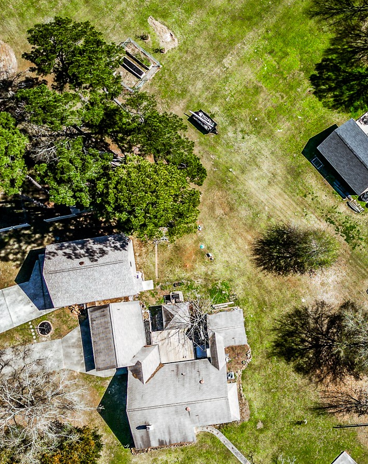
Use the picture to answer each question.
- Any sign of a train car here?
No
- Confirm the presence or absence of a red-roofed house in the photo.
No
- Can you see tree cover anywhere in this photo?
Yes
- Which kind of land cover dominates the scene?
grass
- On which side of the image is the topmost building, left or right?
right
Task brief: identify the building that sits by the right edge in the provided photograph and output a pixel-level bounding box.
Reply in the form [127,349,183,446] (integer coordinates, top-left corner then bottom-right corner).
[317,119,368,195]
